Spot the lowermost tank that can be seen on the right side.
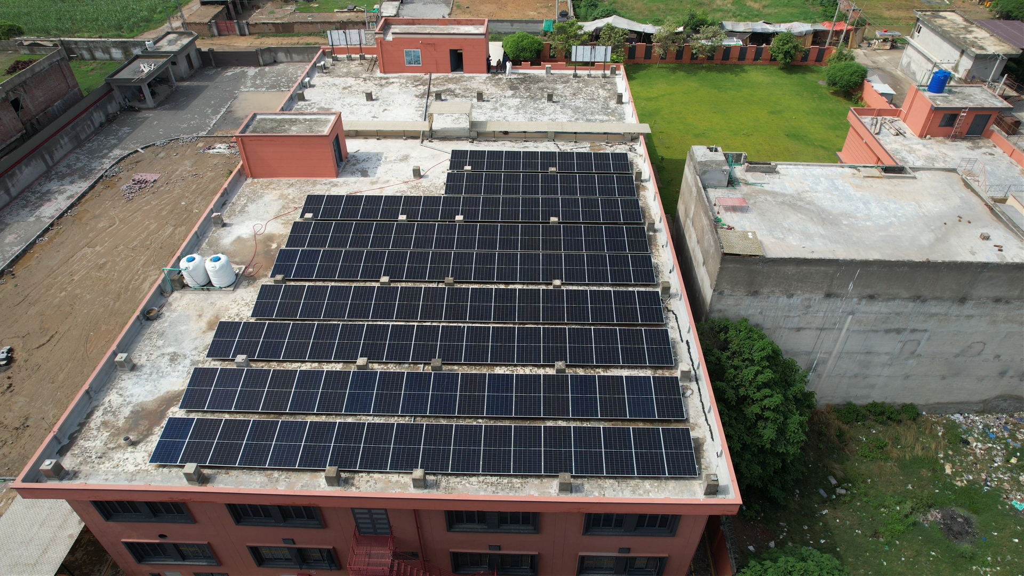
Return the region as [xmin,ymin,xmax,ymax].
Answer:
[683,145,729,188]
